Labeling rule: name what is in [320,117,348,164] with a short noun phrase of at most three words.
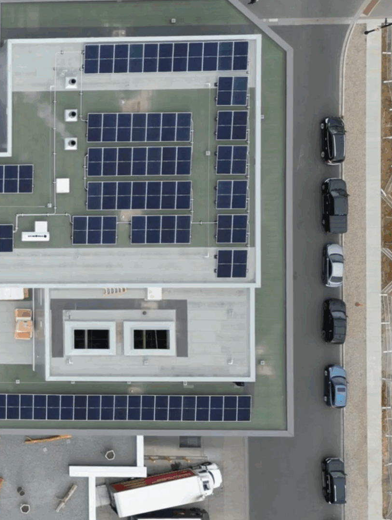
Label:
car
